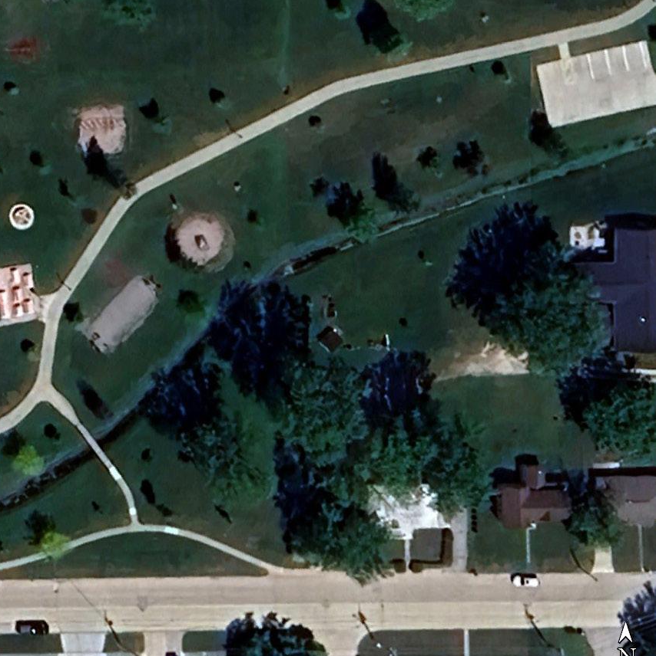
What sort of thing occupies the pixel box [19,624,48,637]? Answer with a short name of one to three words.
vehicle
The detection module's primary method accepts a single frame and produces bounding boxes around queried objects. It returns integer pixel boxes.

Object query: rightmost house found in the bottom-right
[599,473,656,530]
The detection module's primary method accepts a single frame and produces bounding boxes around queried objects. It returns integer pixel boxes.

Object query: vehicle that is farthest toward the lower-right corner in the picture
[513,578,542,591]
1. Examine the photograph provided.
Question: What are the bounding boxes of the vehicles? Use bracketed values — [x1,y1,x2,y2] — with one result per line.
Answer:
[513,578,542,591]
[19,624,48,637]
